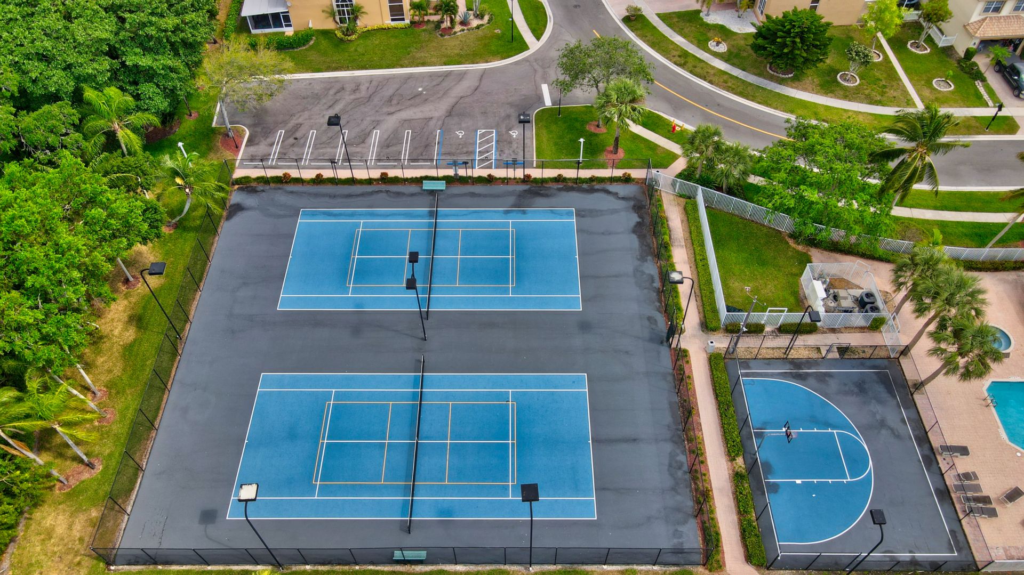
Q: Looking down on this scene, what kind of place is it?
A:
sports ground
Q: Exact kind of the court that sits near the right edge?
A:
basketball court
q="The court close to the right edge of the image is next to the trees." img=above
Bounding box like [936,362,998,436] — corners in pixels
[727,358,974,570]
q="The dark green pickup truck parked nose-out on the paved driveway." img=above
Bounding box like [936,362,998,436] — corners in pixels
[997,60,1024,99]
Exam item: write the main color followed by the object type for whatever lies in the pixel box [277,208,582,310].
blue tennis court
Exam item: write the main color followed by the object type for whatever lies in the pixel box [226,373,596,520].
blue tennis court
